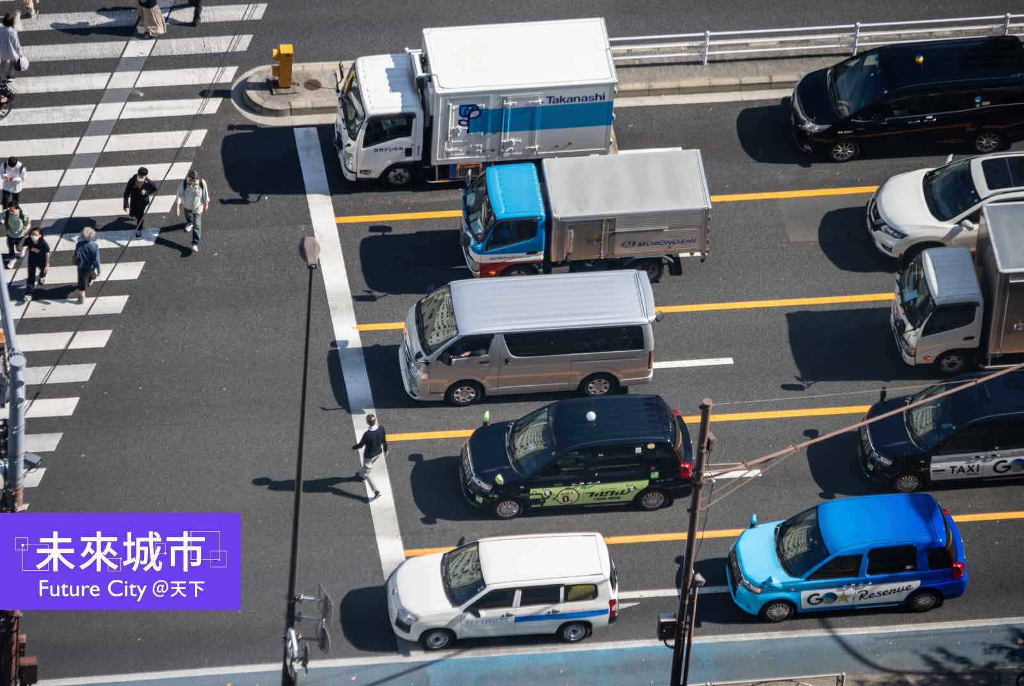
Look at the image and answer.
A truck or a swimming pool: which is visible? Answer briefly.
truck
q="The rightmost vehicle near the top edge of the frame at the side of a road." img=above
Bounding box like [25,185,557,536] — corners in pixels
[332,16,620,194]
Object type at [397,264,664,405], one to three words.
vehicle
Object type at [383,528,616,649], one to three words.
car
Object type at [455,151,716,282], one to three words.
truck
